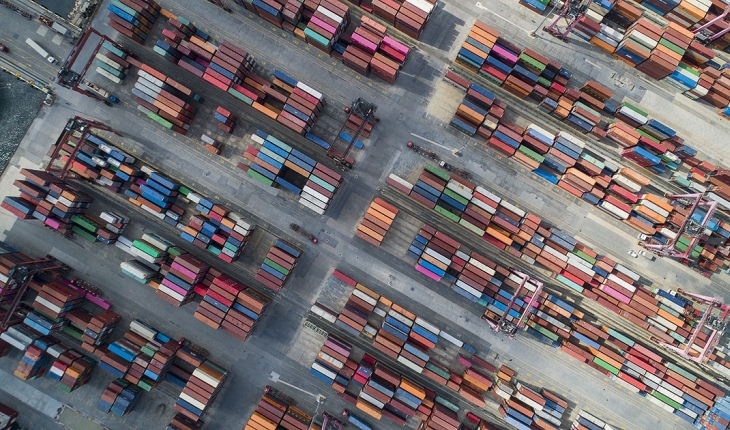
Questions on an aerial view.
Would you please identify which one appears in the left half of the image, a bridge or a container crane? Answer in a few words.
container crane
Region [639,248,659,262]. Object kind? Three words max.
vehicle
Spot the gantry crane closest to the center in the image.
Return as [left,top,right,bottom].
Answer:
[327,94,379,168]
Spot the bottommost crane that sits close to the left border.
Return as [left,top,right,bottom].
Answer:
[0,257,71,328]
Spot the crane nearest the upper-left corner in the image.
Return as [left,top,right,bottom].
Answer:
[53,24,135,103]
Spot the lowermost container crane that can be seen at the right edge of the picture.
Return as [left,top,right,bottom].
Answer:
[649,289,730,364]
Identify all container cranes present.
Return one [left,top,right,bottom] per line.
[649,289,730,364]
[42,113,122,182]
[634,193,716,257]
[543,0,597,42]
[327,94,379,168]
[692,14,730,49]
[0,257,71,328]
[478,266,542,339]
[53,24,135,103]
